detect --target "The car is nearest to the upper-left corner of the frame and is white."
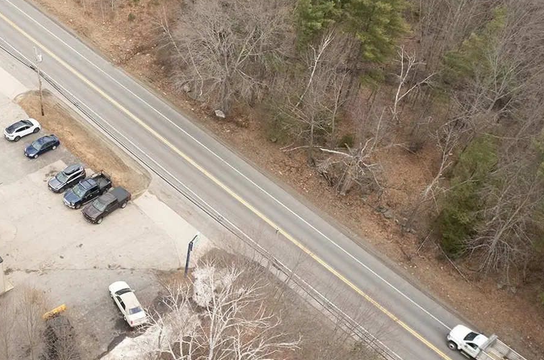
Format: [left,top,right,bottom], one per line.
[2,117,43,141]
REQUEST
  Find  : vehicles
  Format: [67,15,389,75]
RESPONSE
[82,185,132,223]
[2,117,43,141]
[443,325,524,360]
[44,161,86,193]
[61,169,114,209]
[23,133,64,158]
[110,279,149,328]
